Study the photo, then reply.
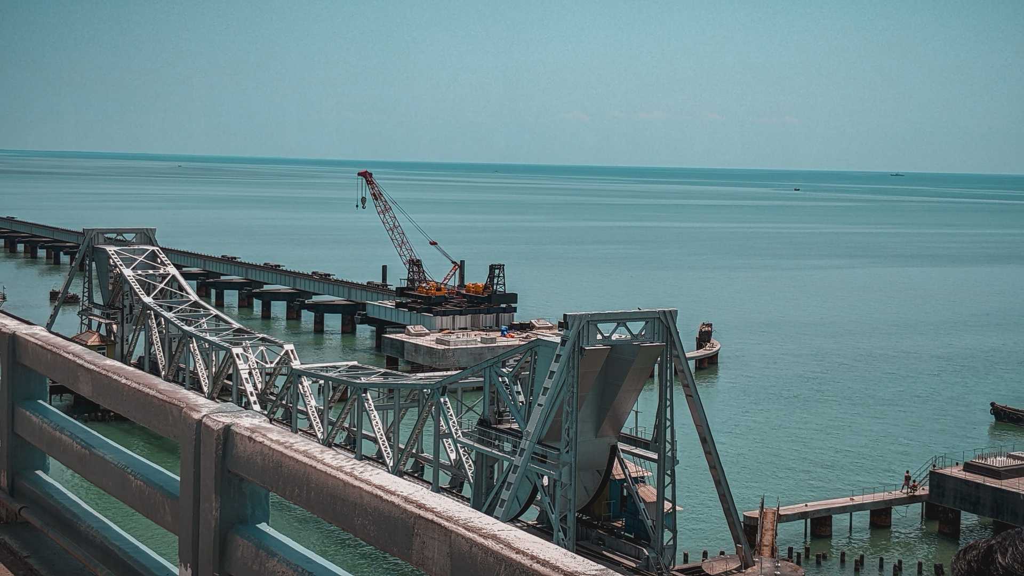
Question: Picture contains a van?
No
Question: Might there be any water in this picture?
Yes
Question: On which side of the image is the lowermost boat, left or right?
right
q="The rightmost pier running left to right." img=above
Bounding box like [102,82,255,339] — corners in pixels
[740,486,973,552]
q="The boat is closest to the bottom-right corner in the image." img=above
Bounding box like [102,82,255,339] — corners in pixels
[992,400,1024,425]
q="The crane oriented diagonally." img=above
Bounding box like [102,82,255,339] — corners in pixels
[356,174,463,291]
